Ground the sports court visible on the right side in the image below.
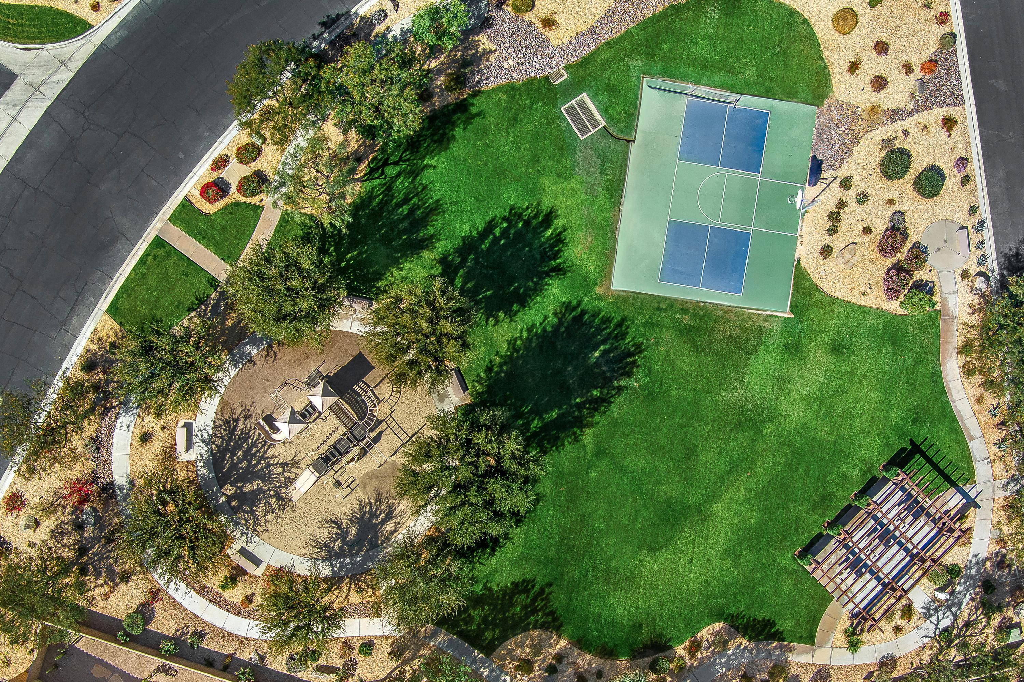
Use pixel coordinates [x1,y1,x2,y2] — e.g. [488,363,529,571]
[613,77,817,314]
